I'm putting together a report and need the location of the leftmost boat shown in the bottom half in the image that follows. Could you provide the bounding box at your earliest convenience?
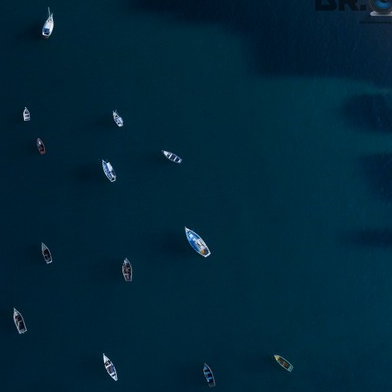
[13,308,26,334]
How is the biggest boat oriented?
at an angle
